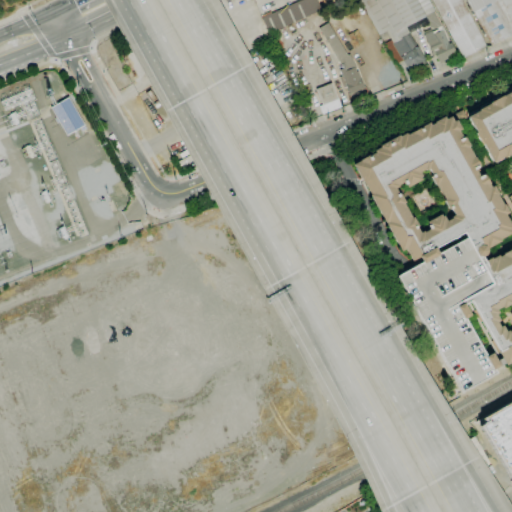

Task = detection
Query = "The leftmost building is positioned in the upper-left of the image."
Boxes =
[52,96,84,140]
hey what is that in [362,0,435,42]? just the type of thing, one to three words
building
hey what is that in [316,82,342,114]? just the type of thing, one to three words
building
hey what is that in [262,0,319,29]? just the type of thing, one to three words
shed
